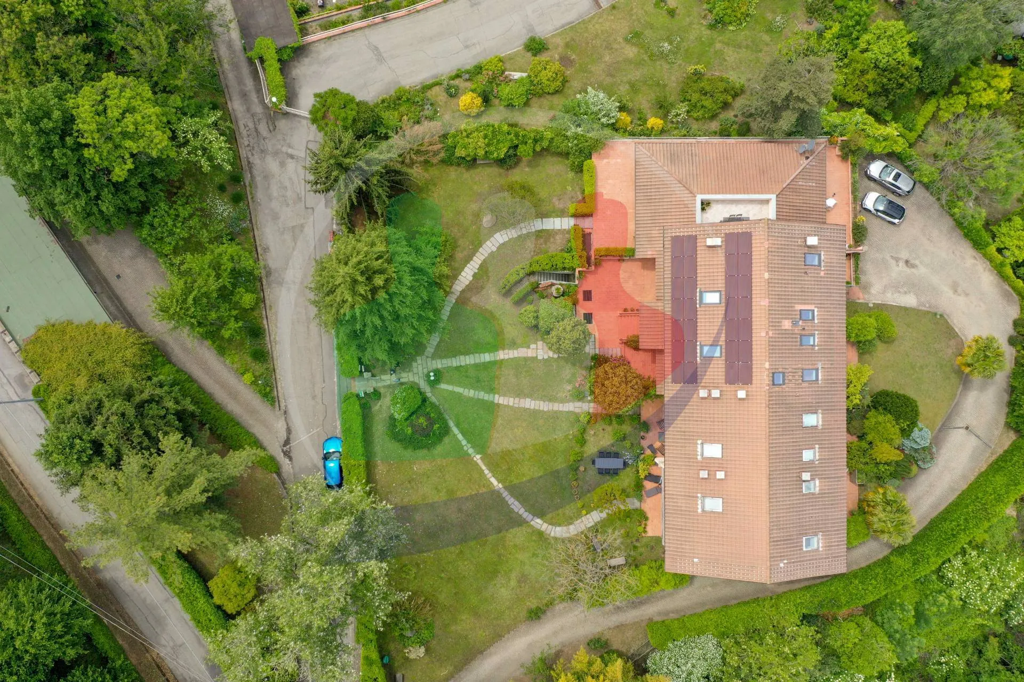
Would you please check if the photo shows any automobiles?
Yes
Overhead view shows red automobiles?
No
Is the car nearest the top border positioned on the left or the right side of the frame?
right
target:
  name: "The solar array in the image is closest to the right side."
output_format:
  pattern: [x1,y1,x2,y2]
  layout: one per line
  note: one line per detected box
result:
[726,231,752,385]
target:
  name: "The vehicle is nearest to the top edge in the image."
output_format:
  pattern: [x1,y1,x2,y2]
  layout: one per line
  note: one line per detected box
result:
[860,160,920,197]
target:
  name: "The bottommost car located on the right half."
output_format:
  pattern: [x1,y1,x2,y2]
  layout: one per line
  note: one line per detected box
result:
[857,191,912,226]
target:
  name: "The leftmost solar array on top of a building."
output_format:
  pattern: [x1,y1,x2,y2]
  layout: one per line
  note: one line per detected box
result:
[671,234,697,384]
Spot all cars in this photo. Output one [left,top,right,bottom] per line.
[319,436,344,488]
[857,191,912,226]
[860,160,920,197]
